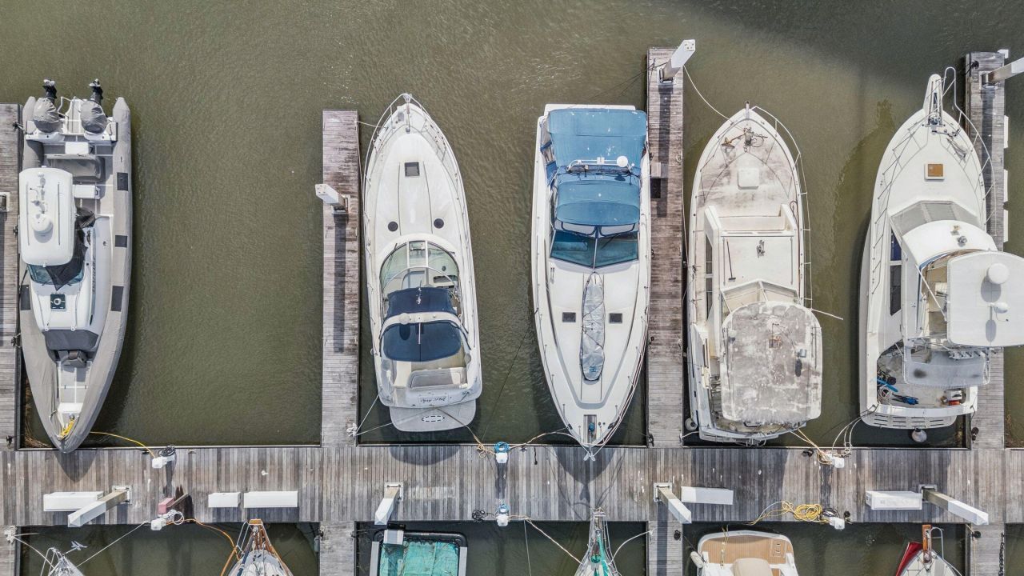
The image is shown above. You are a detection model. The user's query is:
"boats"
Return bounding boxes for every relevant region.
[888,524,961,576]
[40,540,96,576]
[17,79,133,450]
[855,67,1024,429]
[531,105,652,461]
[684,100,843,447]
[363,89,482,432]
[576,508,621,576]
[229,519,294,576]
[693,528,798,576]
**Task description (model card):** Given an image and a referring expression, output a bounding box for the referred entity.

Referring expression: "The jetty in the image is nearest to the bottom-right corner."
[960,523,1004,576]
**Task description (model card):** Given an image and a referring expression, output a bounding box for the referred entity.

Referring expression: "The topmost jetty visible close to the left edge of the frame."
[0,102,26,448]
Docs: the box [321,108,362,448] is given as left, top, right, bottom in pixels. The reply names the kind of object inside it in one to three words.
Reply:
pier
